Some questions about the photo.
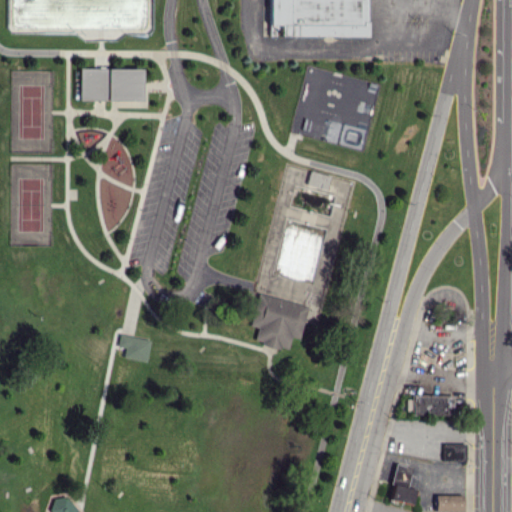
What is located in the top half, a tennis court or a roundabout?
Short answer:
tennis court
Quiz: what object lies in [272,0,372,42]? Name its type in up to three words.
building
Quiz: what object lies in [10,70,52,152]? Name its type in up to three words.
tennis court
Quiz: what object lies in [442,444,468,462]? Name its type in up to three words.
building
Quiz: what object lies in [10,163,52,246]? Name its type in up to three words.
tennis court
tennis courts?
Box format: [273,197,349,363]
[10,163,52,246]
[10,70,52,152]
